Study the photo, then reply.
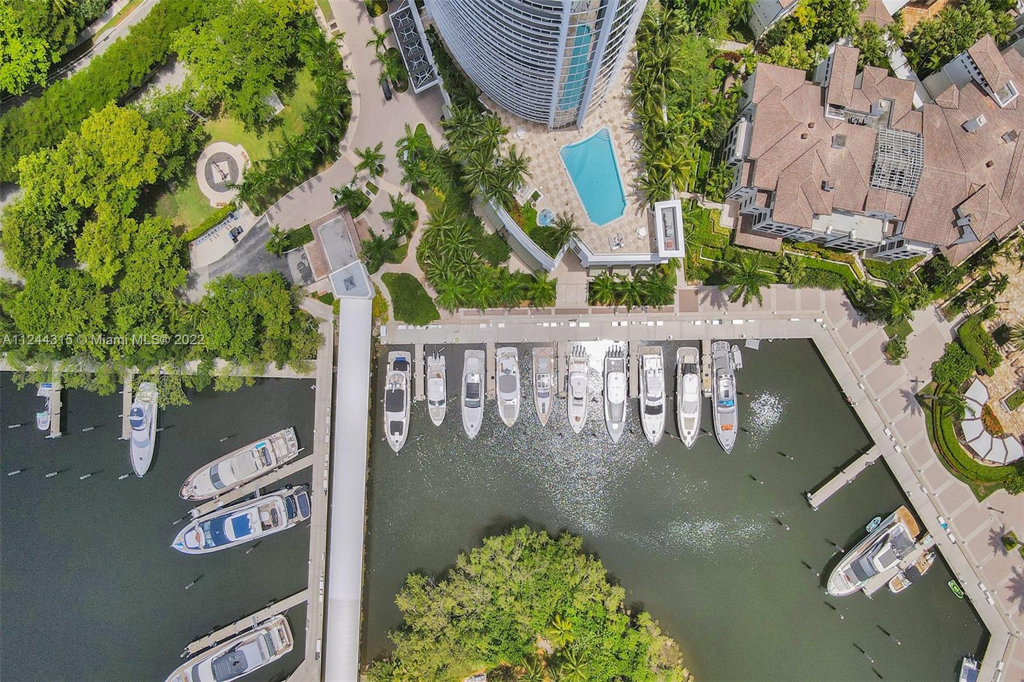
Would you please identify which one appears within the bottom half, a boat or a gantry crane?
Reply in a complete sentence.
There is a boat within the bottom half.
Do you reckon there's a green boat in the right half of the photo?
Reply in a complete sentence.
Yes, the scene does show a green boat in the right half of the photo.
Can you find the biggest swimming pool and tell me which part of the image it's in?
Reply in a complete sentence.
The biggest swimming pool appears toward the top of the photo.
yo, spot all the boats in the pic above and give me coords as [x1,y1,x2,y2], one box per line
[461,350,486,438]
[168,484,311,550]
[177,427,305,500]
[865,517,882,531]
[36,383,52,431]
[496,348,521,427]
[956,651,977,682]
[710,342,742,455]
[566,351,589,434]
[824,504,920,596]
[731,345,744,374]
[673,348,705,450]
[603,351,628,443]
[889,550,936,592]
[386,351,414,455]
[428,355,446,426]
[123,382,163,478]
[167,614,294,682]
[947,580,964,599]
[637,346,667,445]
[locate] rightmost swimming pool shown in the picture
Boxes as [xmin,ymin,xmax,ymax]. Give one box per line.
[560,127,627,227]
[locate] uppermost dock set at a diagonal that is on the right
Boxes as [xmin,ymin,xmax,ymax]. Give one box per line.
[809,445,882,508]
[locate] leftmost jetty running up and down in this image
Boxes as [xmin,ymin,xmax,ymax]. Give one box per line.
[48,372,67,436]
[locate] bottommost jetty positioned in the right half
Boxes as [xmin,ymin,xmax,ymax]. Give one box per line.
[863,535,936,596]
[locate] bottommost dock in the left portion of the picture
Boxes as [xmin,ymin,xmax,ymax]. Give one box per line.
[188,587,307,655]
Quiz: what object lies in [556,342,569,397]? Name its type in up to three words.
pier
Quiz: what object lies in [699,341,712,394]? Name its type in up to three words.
pier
